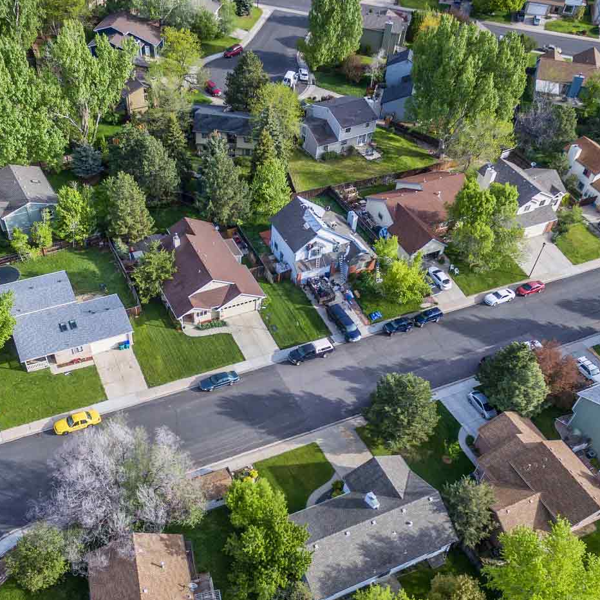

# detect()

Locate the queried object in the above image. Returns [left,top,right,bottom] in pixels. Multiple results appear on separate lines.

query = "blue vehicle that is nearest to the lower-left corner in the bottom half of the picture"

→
[197,369,242,394]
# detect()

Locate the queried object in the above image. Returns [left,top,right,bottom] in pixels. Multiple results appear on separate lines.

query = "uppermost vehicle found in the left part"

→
[225,42,241,55]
